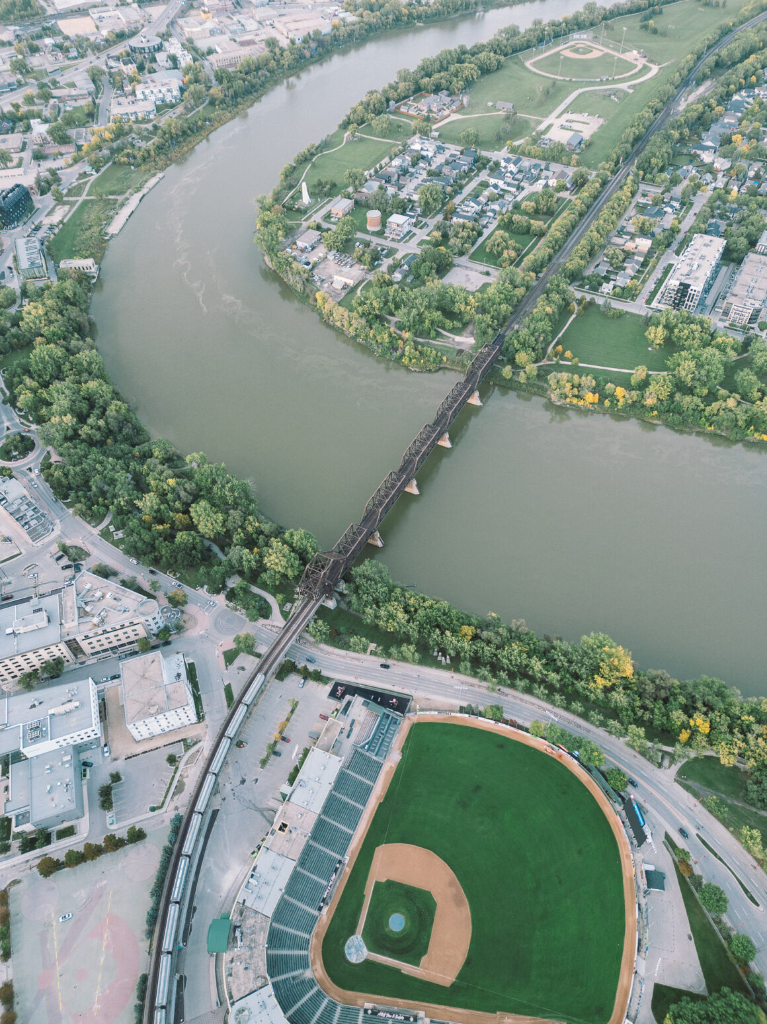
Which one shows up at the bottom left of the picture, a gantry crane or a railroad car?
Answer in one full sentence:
There is a railroad car at the bottom left of the picture.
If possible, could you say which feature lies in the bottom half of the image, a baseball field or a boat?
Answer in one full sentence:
What appears in the bottom half of the image is a baseball field.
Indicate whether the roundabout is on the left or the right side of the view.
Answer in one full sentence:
The roundabout is on the left side of the image.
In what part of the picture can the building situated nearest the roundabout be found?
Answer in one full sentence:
You can find the building situated nearest the roundabout in the left area of the picture.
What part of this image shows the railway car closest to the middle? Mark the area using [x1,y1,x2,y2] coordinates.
[244,674,264,707]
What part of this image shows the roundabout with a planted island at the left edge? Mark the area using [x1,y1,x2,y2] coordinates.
[0,420,53,472]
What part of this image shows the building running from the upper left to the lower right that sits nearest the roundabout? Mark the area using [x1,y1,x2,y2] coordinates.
[0,476,55,549]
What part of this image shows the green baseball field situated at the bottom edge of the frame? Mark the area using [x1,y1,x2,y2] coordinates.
[309,707,641,1024]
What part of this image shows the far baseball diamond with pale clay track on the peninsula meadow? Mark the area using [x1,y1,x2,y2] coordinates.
[524,27,647,82]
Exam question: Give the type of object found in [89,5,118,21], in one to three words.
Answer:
building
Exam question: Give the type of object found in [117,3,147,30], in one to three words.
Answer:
building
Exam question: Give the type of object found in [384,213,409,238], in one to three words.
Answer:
house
